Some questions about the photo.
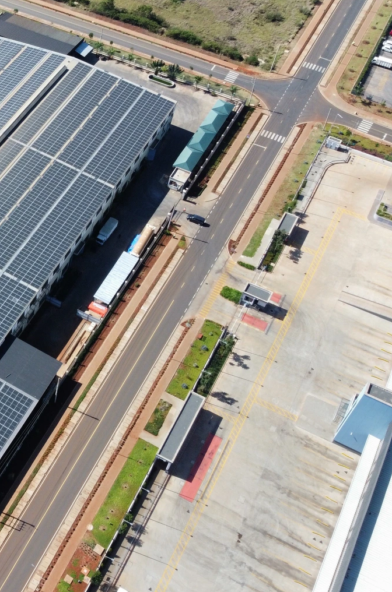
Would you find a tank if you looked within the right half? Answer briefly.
No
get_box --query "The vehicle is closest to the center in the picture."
[183,211,210,227]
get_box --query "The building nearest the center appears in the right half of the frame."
[240,283,273,312]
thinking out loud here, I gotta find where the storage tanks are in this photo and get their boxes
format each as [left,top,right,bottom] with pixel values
[129,224,157,263]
